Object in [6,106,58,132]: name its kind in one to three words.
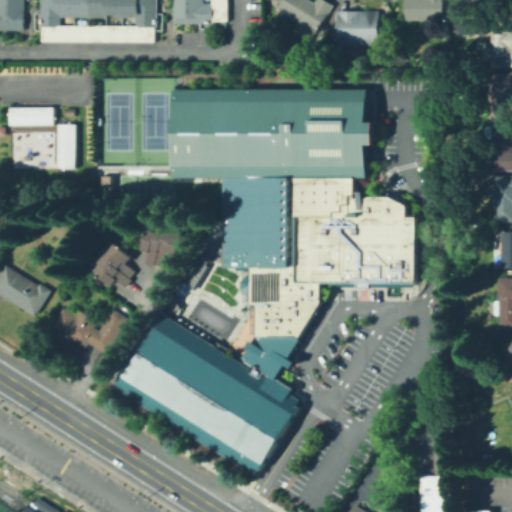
building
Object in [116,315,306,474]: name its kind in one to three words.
building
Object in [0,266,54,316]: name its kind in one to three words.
house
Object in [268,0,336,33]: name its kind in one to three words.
house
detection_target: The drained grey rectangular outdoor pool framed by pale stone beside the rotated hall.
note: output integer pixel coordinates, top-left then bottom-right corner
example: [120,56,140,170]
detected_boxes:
[187,299,242,342]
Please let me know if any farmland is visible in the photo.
No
